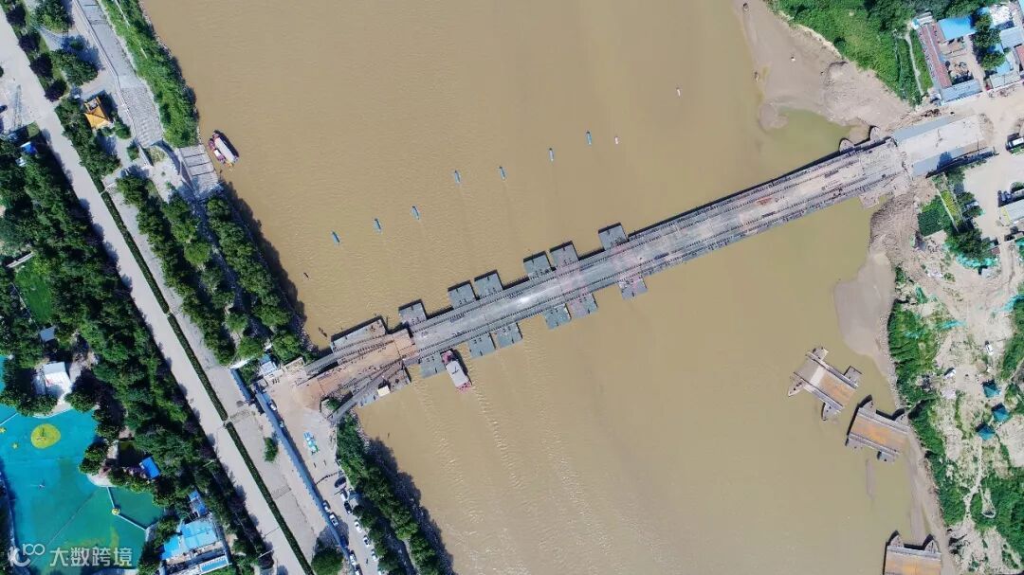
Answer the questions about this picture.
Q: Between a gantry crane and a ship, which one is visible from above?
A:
ship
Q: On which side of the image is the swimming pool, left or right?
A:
left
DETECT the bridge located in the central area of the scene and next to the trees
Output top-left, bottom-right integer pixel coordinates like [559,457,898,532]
[300,133,900,420]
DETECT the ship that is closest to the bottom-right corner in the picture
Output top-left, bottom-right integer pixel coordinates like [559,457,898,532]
[883,532,941,575]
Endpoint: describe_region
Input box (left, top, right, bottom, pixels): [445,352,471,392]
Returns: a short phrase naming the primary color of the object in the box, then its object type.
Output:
white boat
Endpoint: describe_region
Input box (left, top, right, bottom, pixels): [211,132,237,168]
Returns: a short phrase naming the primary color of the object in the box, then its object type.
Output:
white boat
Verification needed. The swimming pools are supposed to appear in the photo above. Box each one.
[0,359,163,575]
